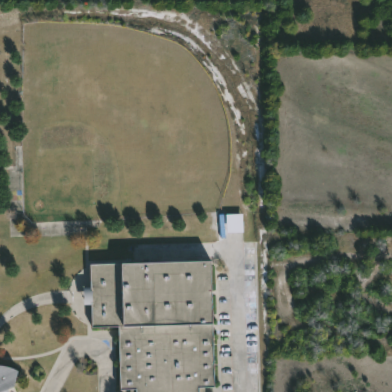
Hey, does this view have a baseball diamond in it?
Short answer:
Yes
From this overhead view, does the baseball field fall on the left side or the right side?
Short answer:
left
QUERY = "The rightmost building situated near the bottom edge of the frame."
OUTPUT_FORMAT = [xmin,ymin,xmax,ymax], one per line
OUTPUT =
[84,261,214,392]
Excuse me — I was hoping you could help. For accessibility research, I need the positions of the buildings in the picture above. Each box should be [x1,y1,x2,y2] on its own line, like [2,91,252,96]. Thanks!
[84,261,214,392]
[219,213,244,238]
[0,366,18,392]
